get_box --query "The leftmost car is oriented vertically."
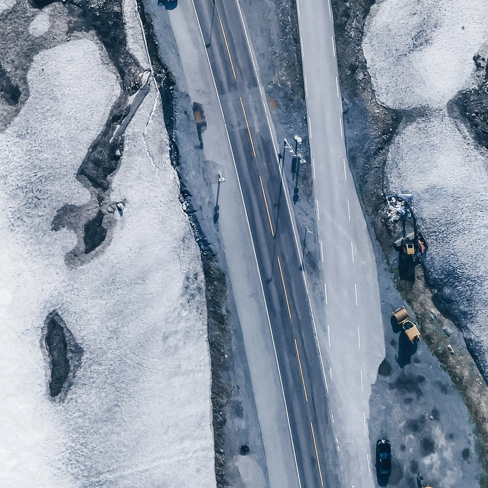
[375,440,392,475]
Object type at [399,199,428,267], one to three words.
work vehicle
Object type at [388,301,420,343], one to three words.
work vehicle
